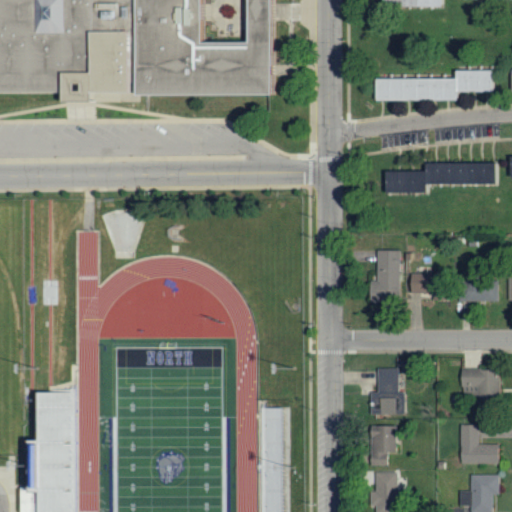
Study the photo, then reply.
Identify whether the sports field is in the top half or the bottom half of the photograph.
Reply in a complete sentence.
The sports field is in the bottom half of the image.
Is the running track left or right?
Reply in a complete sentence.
You can find the running track on the left side of the picture.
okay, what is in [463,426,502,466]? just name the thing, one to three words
house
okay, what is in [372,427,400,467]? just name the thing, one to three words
house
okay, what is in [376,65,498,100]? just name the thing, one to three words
building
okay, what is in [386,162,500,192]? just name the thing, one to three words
building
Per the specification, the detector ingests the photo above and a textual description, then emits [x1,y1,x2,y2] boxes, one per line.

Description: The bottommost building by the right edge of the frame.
[460,477,504,512]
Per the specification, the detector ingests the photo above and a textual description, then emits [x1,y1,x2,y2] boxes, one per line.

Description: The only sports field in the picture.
[100,338,236,512]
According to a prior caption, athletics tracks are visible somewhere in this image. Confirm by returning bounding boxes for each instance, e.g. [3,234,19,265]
[78,230,259,512]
